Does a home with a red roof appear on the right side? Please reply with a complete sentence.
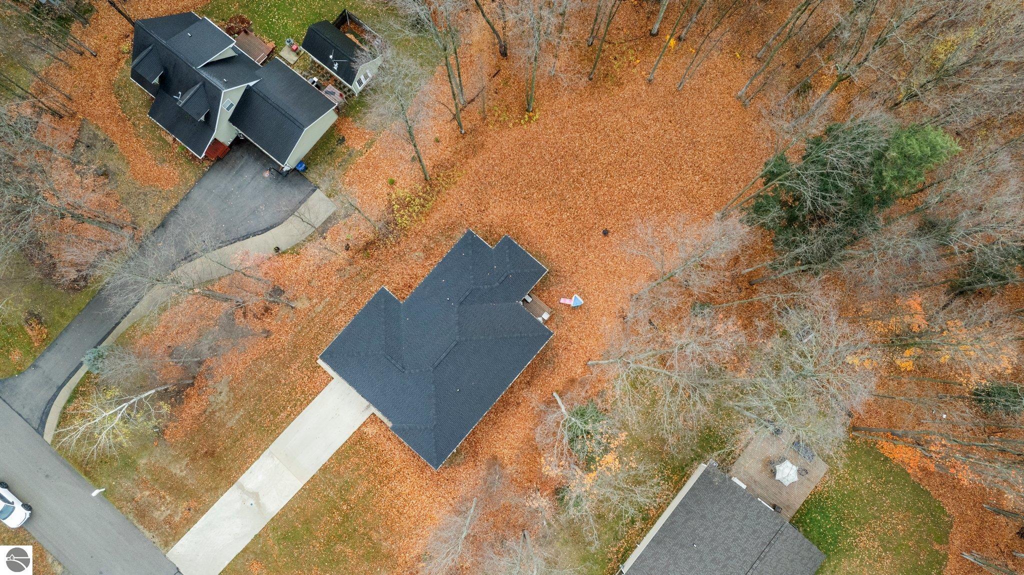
No, there is no home with a red roof on the right side.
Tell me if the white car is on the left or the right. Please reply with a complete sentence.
You can find the white car on the left side of the picture.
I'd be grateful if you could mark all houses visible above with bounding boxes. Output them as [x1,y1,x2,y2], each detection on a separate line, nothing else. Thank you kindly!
[128,11,340,170]
[317,227,555,471]
[617,458,825,575]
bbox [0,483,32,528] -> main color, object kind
white car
